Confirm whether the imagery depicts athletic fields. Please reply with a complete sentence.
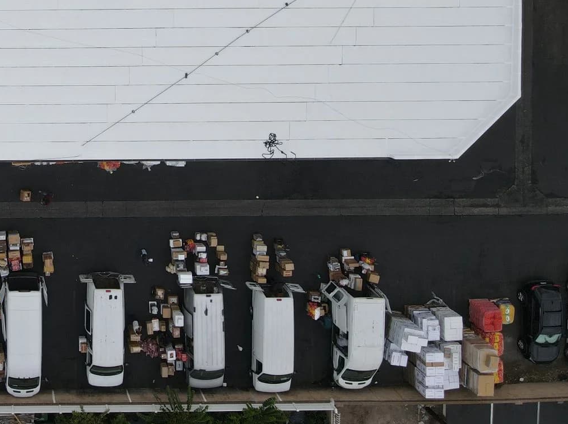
No, the picture doesn't show any athletic field.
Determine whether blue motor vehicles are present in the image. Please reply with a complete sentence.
No, there is no blue motor vehicle in the image.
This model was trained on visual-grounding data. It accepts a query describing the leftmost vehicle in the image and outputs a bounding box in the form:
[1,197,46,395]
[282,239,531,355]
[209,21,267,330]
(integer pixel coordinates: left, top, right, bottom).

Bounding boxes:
[0,275,46,398]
